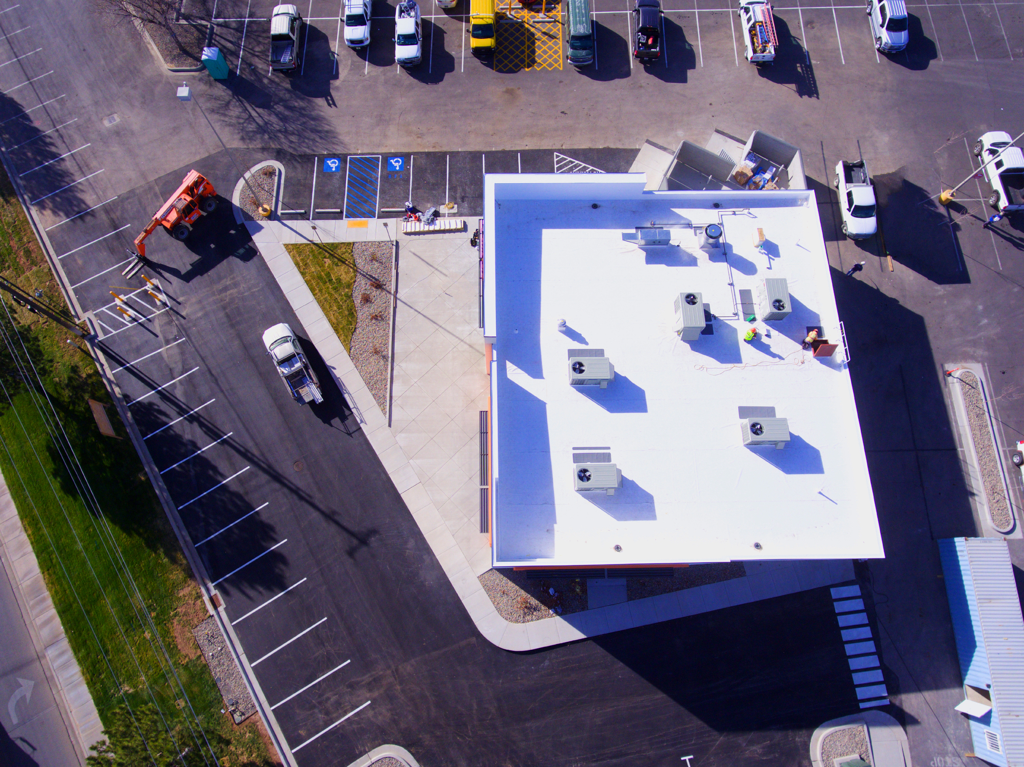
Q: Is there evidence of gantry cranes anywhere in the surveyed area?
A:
No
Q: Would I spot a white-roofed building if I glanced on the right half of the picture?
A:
Yes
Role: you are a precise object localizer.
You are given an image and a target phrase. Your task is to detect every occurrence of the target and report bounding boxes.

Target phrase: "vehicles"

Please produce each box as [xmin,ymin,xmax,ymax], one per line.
[436,0,458,9]
[342,0,376,47]
[980,133,1024,204]
[267,4,301,72]
[467,0,498,53]
[1013,439,1024,471]
[867,0,910,53]
[564,0,596,65]
[835,163,878,240]
[132,168,220,272]
[743,0,779,54]
[391,2,423,65]
[516,0,538,5]
[630,0,662,53]
[263,323,324,408]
